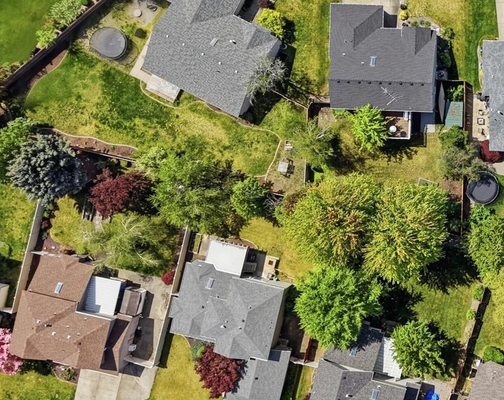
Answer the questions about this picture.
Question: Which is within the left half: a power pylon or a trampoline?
trampoline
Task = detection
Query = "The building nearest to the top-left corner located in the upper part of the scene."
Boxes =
[138,0,280,115]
